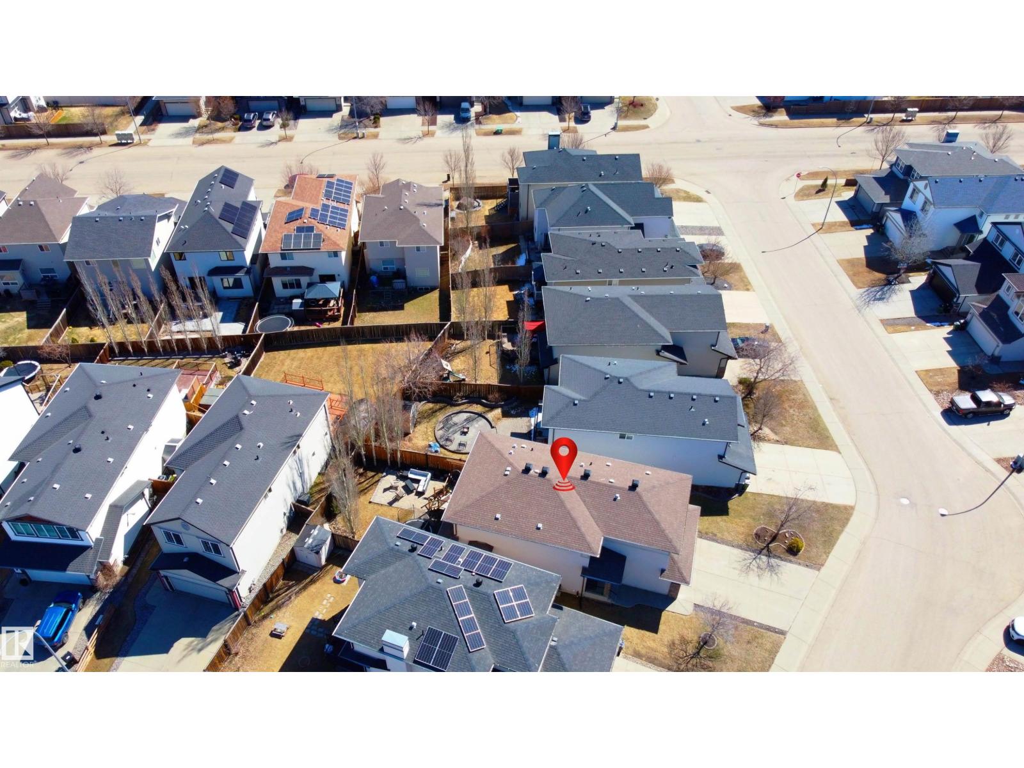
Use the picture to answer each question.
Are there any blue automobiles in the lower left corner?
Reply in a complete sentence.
Yes, in the lower left corner there is a blue automobile.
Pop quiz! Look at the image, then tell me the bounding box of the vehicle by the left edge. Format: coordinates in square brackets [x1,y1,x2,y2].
[25,585,85,652]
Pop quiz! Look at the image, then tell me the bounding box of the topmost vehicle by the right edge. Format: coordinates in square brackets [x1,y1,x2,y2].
[948,387,1021,419]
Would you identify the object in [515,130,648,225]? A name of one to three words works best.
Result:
house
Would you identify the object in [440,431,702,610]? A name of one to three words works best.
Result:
house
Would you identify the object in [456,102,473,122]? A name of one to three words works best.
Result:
vehicle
